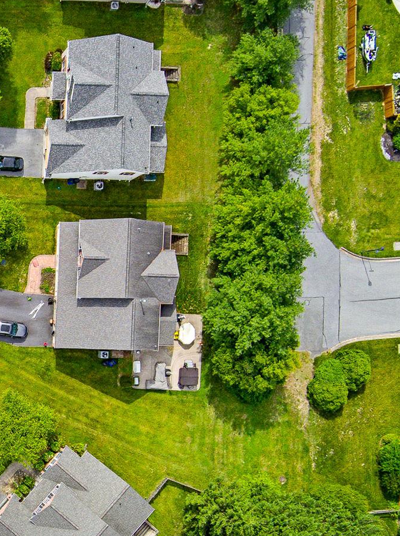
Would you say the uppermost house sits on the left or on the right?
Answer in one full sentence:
The uppermost house sits on the left side.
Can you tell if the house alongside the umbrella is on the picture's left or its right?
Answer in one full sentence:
It is on the left.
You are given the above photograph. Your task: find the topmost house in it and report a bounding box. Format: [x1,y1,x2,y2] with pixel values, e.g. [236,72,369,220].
[42,32,172,185]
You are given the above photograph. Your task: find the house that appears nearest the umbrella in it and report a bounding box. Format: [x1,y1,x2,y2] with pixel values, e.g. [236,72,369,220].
[52,217,184,353]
